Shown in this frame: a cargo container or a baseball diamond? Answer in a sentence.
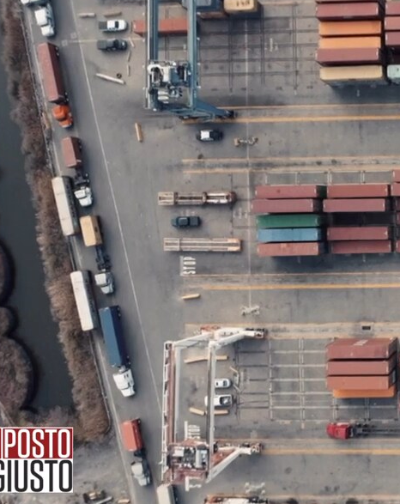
Looking from above, you can make out a cargo container.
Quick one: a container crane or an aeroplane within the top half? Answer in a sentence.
Visible within the top half is a container crane.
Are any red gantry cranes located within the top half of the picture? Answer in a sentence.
No, I see no red gantry crane within the top half of the picture.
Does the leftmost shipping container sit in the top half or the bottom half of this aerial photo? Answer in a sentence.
It is in the top half that the leftmost shipping container appears.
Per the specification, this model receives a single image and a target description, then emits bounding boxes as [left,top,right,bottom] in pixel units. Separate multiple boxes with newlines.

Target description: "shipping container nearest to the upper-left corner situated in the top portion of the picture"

[38,42,68,104]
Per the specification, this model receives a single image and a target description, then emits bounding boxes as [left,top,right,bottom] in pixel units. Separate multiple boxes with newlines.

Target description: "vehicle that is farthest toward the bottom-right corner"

[327,421,400,438]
